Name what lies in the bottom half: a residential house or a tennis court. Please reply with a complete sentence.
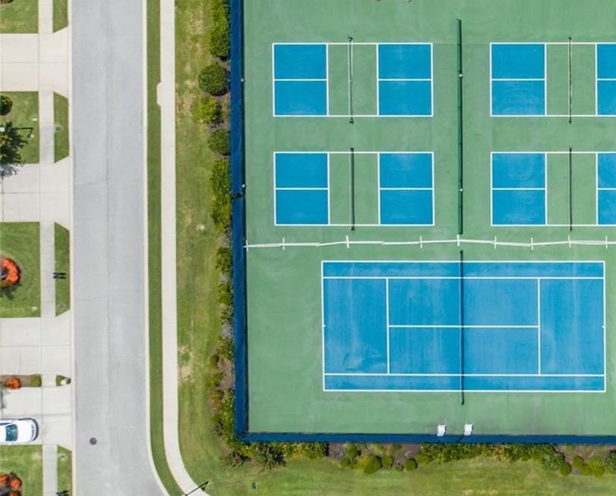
You can see a tennis court in the bottom half.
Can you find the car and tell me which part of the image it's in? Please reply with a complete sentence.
The car sits in the bottom left section of the image.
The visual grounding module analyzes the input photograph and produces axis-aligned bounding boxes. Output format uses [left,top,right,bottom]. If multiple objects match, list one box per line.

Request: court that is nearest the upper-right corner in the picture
[490,38,616,121]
